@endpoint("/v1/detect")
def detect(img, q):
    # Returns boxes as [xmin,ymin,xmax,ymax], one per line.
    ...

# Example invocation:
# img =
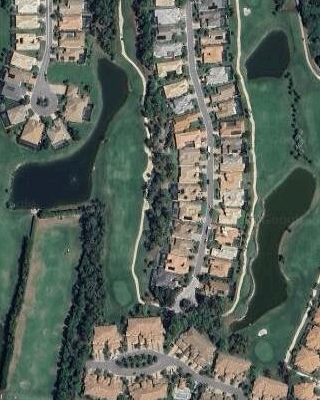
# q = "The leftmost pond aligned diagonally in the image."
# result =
[10,58,128,210]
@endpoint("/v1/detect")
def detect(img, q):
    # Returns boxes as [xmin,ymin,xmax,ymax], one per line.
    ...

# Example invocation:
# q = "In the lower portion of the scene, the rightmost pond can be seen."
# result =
[231,168,316,331]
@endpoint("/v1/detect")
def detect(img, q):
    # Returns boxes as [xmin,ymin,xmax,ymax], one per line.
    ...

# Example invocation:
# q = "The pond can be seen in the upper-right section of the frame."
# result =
[246,30,290,79]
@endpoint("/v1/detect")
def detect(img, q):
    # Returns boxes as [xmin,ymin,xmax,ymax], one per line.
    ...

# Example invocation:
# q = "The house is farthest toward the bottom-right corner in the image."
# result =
[295,382,315,400]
